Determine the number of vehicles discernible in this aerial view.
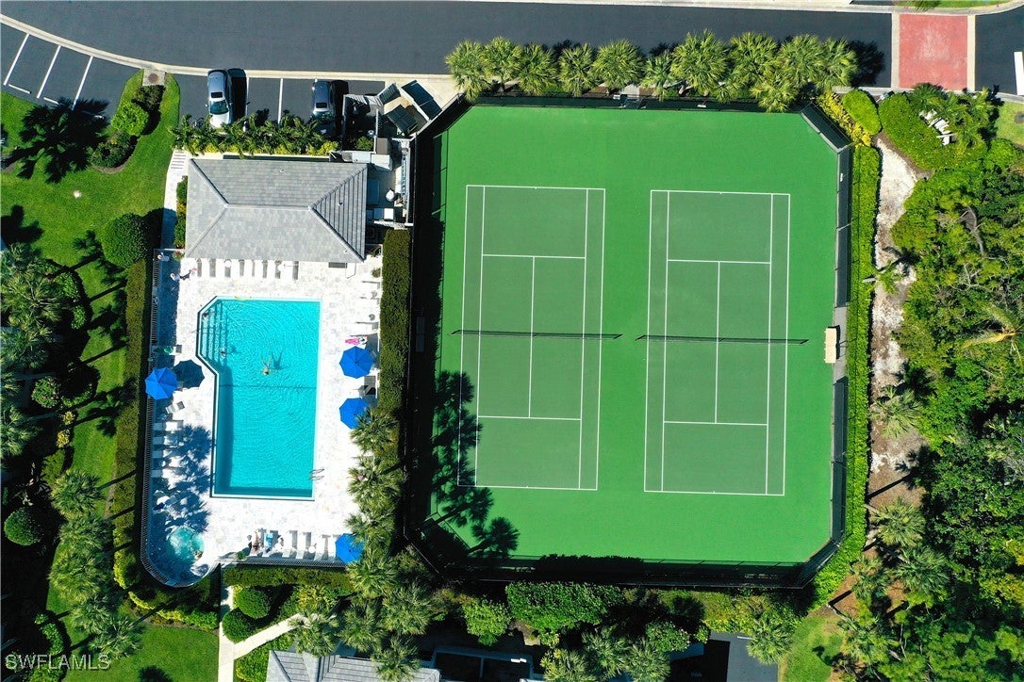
2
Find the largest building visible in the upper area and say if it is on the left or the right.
left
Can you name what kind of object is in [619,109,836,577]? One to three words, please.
tennis court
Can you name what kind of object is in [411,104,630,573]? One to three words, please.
tennis court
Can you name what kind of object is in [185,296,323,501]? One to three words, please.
swimming pool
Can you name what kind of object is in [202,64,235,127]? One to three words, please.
car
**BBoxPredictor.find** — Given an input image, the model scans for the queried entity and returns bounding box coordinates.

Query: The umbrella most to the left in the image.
[145,367,179,400]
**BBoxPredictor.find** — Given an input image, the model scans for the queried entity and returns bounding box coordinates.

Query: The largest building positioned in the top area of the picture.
[183,157,367,264]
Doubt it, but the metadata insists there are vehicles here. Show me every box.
[202,64,235,127]
[308,74,339,137]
